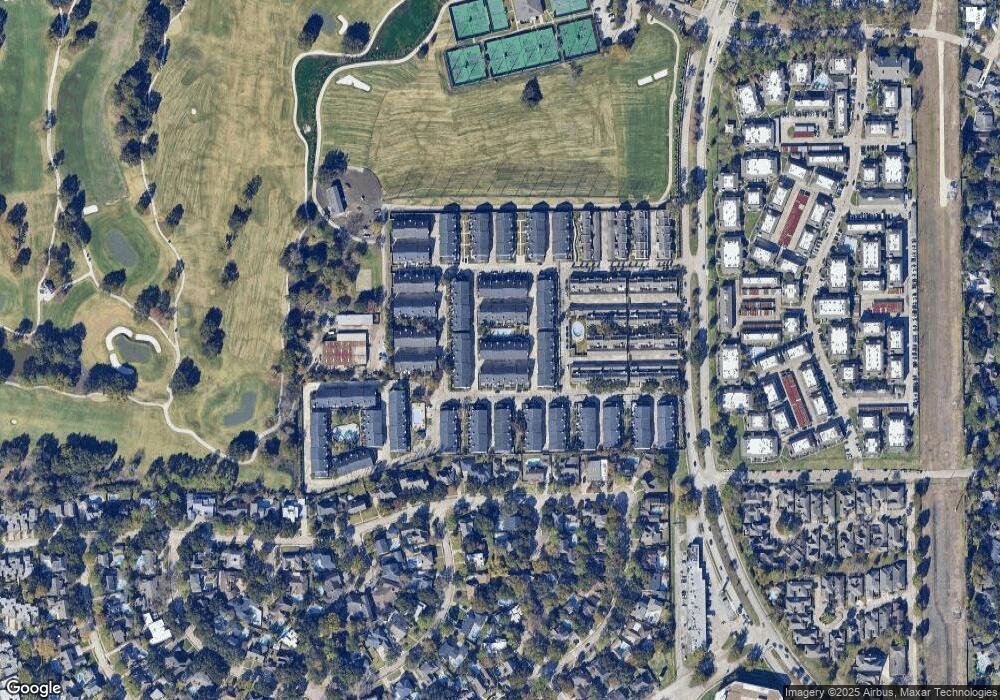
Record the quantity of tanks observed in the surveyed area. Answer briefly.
none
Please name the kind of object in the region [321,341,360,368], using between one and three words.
barn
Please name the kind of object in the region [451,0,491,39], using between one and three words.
tennis court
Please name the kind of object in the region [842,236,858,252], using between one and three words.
swimming pool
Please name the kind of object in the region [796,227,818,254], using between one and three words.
building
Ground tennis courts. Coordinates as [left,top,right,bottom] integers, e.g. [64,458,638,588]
[485,0,511,29]
[486,28,560,76]
[451,0,491,39]
[553,0,590,17]
[447,44,488,85]
[559,19,598,59]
